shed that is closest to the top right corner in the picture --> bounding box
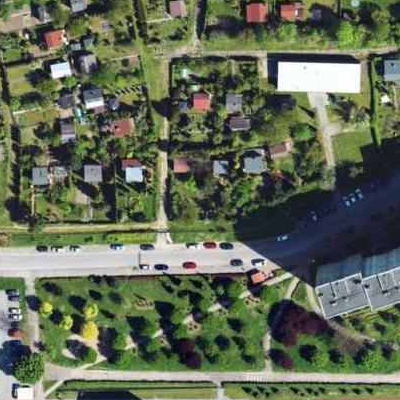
[384,59,400,80]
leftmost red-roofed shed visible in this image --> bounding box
[44,29,66,49]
